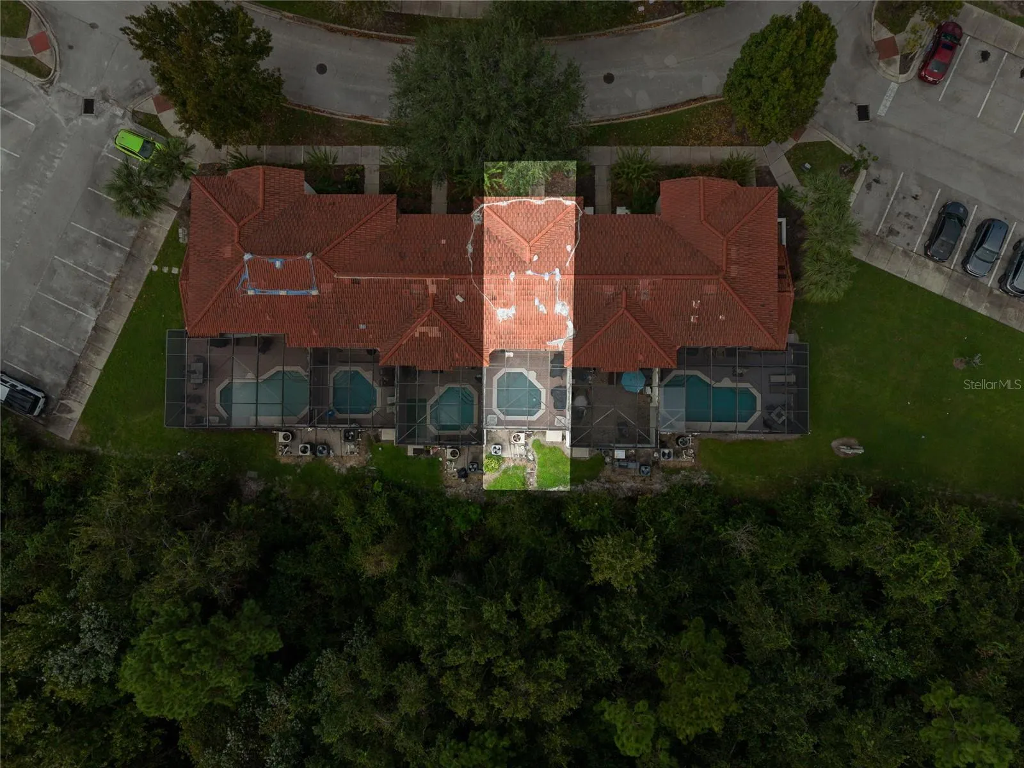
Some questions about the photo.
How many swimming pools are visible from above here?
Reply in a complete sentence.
Altogether the scene contains 5 swimming pools.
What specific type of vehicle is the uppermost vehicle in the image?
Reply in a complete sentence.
What you see as the uppermost vehicle is a car.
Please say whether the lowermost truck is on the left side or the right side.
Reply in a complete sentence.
It is on the left.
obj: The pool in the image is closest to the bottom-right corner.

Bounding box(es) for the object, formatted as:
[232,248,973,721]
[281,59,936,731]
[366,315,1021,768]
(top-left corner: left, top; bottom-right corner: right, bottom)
[661,371,762,427]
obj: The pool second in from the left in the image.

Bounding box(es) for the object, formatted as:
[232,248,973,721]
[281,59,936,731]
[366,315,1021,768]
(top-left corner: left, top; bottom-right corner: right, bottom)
[330,367,380,418]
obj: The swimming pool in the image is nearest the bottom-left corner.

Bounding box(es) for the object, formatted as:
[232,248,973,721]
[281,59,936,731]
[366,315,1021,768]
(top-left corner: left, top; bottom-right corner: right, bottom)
[215,366,310,420]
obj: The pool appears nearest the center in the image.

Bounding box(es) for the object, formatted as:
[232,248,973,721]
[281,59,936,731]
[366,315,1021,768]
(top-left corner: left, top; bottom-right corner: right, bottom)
[493,368,545,421]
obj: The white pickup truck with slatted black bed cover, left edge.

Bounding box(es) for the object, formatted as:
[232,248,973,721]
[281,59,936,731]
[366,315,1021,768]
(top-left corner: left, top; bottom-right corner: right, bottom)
[0,364,56,419]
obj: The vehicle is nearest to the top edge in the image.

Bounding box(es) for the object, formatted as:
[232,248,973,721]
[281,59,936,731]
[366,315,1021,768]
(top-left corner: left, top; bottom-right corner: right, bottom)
[915,19,965,88]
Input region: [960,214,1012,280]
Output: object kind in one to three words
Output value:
car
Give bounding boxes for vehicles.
[0,364,56,419]
[998,237,1024,303]
[921,198,969,265]
[112,127,175,173]
[960,214,1012,280]
[915,19,965,88]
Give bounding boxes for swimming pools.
[661,371,762,427]
[215,366,310,420]
[493,368,545,421]
[330,367,380,418]
[427,384,479,435]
